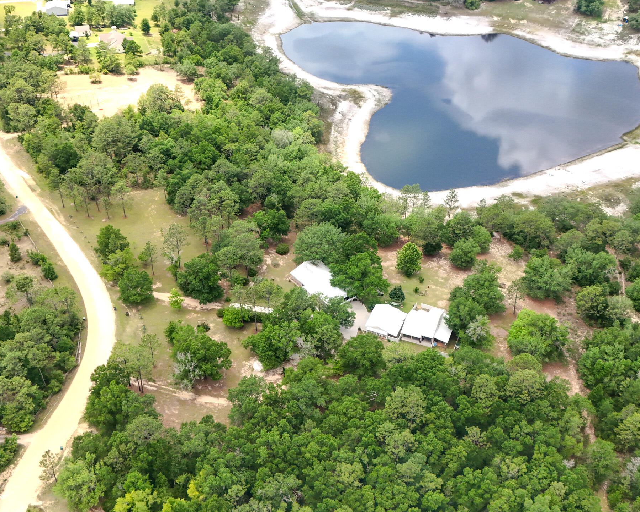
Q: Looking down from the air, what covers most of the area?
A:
trees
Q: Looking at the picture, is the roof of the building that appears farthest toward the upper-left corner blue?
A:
No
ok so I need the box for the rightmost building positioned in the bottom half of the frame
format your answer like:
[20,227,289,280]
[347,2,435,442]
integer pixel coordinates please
[401,307,456,349]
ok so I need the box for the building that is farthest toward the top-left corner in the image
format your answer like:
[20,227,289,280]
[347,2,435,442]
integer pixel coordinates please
[44,0,69,21]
